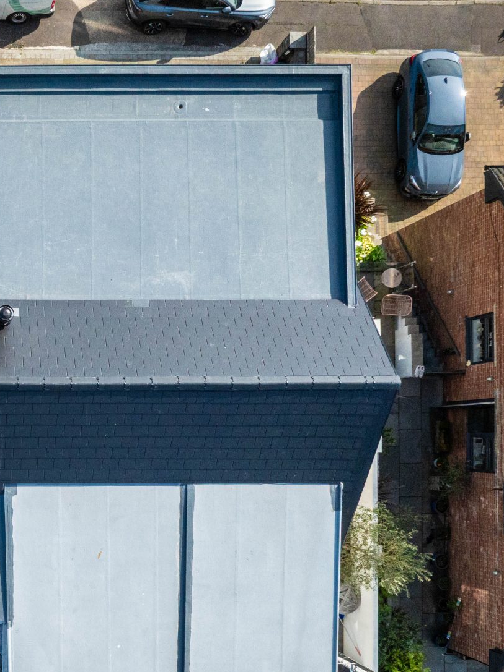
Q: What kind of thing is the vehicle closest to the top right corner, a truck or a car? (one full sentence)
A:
It looks like the vehicle closest to the top right corner is a car.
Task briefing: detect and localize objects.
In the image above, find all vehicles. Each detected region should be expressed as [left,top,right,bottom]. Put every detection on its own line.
[123,0,278,34]
[0,0,55,21]
[389,43,478,207]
